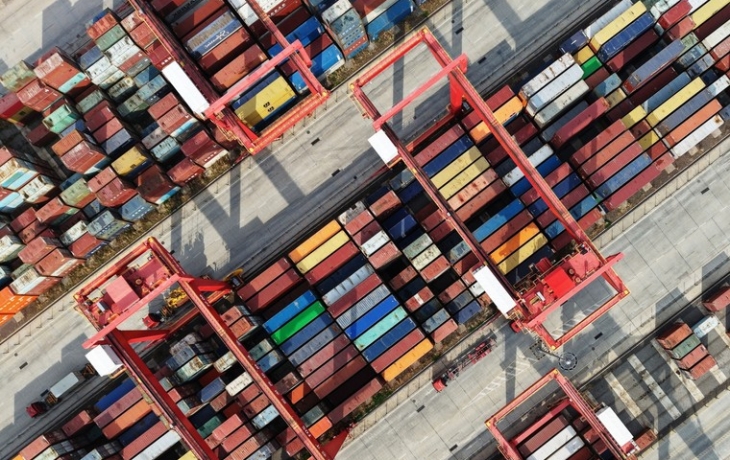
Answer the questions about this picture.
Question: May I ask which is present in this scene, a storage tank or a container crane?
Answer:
container crane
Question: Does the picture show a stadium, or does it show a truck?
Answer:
truck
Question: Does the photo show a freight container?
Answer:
Yes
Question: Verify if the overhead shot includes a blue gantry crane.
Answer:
No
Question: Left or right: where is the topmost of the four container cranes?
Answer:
left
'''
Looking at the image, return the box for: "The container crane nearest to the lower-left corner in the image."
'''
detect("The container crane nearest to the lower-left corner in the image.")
[76,242,349,460]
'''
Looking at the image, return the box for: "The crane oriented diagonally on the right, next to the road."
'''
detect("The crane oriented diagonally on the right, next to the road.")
[351,30,627,349]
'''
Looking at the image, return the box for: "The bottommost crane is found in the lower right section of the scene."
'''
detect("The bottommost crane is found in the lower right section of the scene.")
[483,370,640,460]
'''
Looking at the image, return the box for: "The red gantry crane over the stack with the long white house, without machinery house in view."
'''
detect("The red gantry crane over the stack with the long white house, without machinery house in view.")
[114,0,332,153]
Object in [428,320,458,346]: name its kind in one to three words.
shipping container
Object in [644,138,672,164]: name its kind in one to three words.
shipping container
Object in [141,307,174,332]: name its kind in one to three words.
truck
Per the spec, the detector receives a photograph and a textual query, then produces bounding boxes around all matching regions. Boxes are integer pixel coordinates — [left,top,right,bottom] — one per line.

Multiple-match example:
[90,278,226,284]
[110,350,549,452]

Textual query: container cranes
[351,30,627,349]
[483,370,640,460]
[76,242,349,460]
[114,0,332,153]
